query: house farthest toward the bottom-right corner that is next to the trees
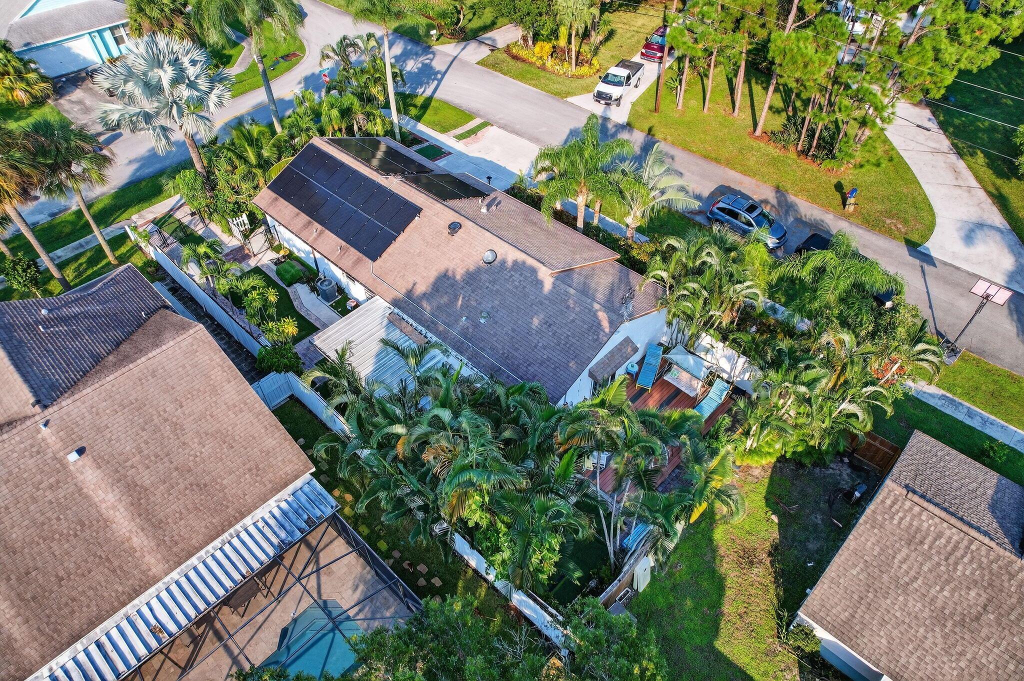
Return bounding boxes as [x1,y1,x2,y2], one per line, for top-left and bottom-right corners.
[794,432,1024,681]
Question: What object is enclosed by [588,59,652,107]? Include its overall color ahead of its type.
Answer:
white truck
